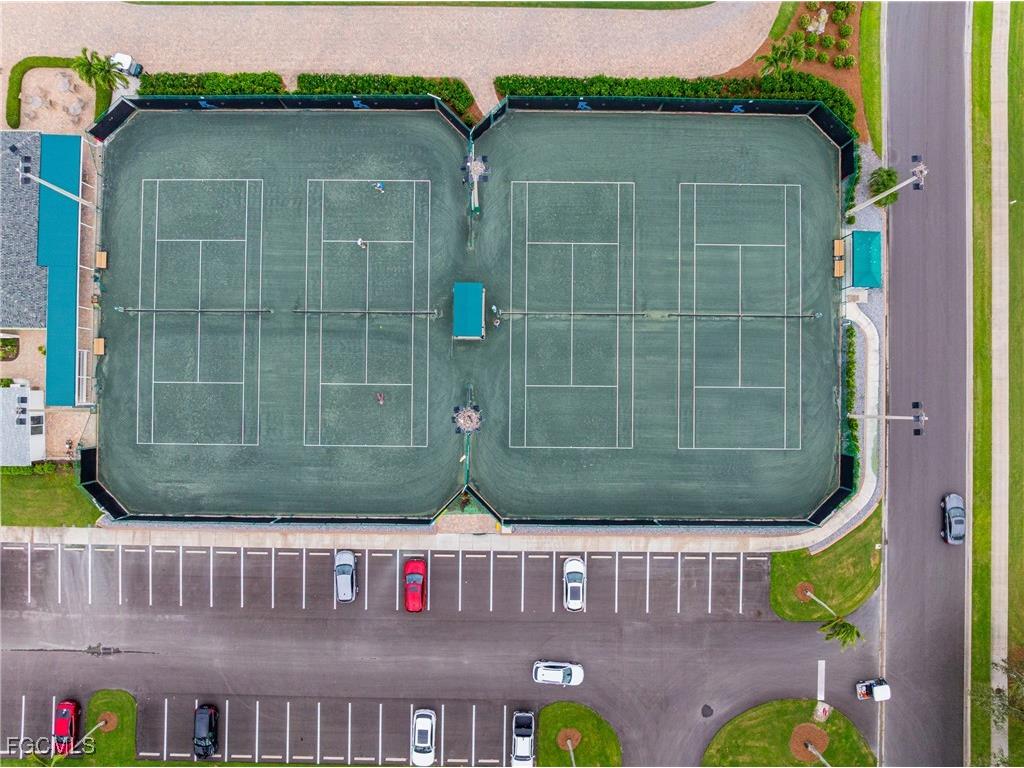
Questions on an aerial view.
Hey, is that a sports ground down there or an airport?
sports ground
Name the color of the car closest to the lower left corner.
red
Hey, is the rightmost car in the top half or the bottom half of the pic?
bottom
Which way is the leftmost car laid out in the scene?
from top to bottom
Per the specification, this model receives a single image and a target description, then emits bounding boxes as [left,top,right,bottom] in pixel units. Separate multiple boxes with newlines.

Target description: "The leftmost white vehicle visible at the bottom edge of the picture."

[410,707,437,766]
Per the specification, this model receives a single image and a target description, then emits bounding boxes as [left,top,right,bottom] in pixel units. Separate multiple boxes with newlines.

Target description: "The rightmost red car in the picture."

[401,557,428,612]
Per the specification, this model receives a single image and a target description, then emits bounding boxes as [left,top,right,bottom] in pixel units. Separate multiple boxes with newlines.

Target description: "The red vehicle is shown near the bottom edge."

[54,697,83,752]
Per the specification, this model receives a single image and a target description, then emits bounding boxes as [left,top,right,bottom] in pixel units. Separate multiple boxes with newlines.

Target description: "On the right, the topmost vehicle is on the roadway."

[938,493,968,545]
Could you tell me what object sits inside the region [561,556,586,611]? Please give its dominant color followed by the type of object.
white car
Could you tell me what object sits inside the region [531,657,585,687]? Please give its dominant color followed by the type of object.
white car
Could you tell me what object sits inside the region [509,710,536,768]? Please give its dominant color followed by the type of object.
white truck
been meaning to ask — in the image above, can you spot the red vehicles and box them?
[401,557,428,612]
[54,697,83,752]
